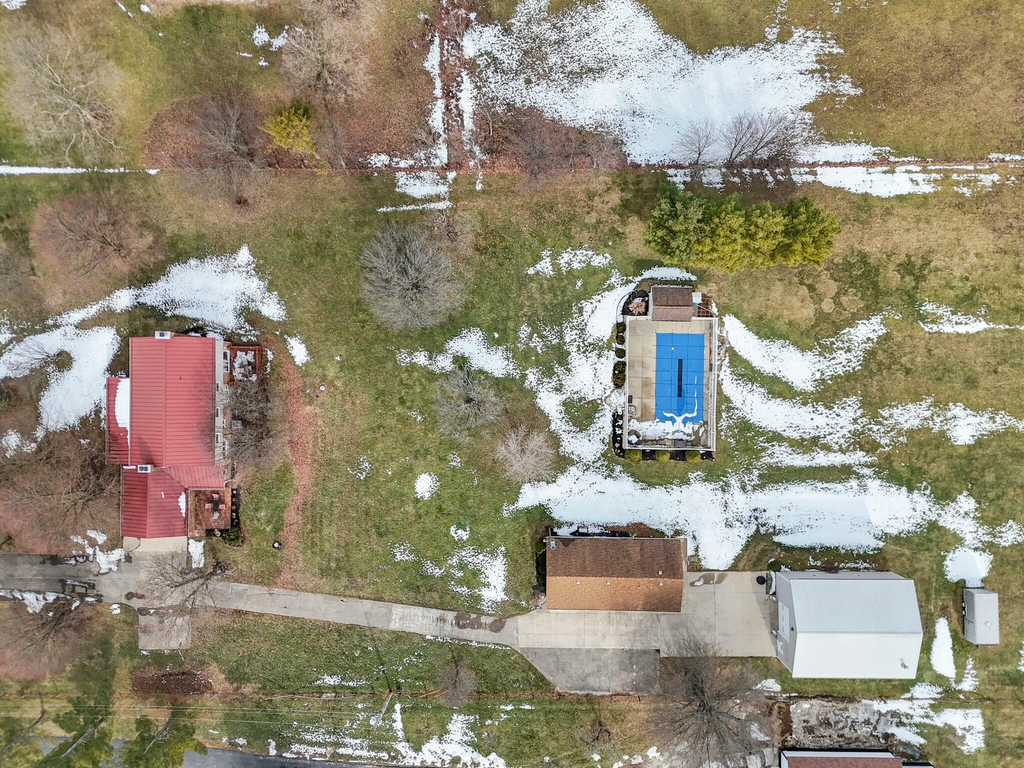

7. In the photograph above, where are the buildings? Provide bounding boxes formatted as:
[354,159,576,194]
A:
[775,572,923,678]
[779,748,928,768]
[649,286,695,321]
[546,535,686,613]
[105,331,233,539]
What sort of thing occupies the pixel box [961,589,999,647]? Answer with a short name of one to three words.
trailer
